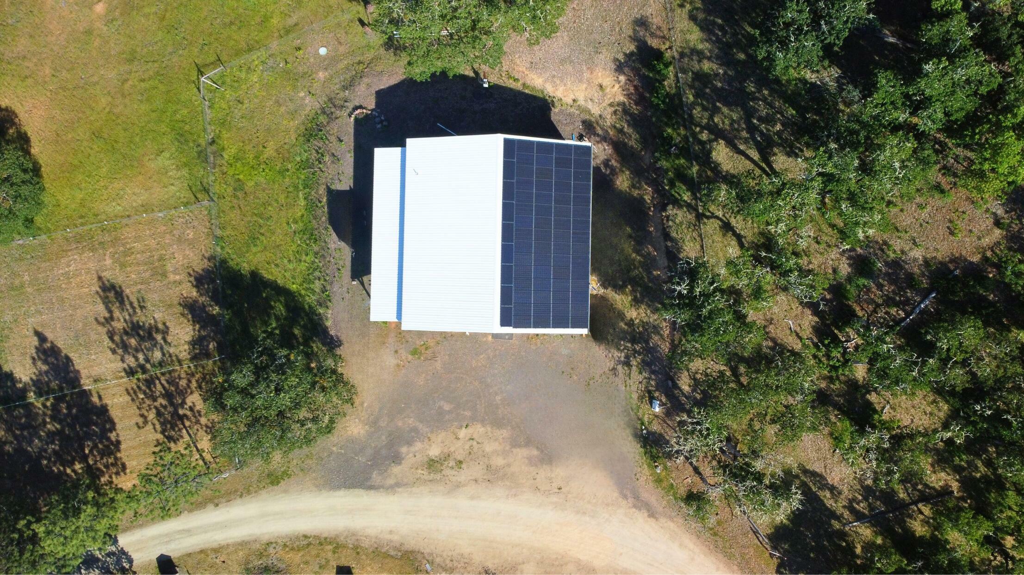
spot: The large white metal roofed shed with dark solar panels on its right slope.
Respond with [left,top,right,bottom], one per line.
[370,135,594,341]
